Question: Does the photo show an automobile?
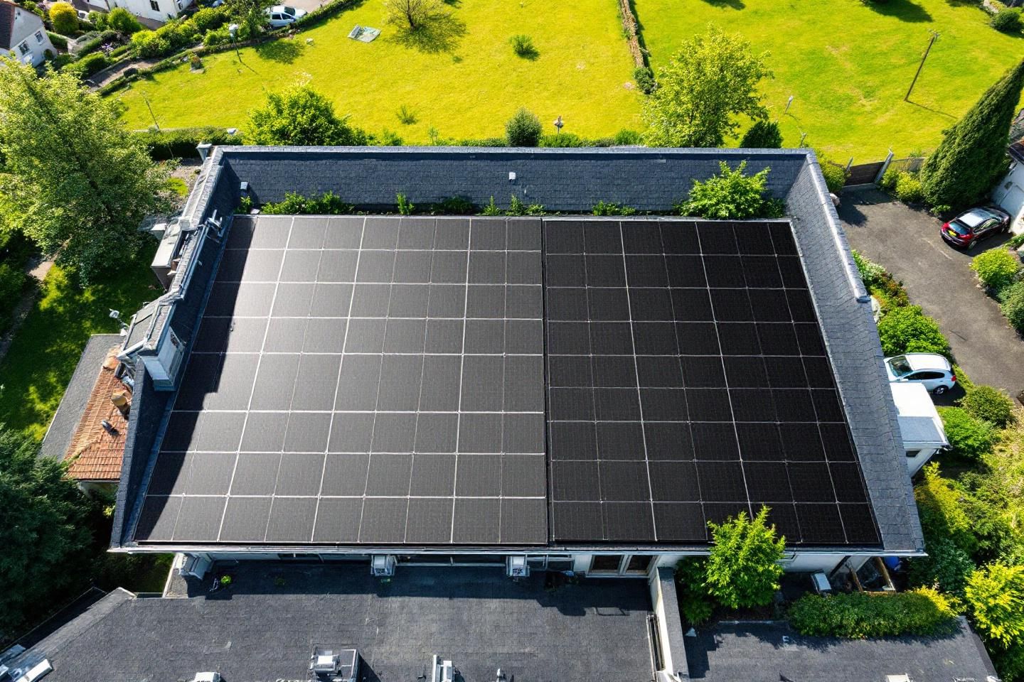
Yes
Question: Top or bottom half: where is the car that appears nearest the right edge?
top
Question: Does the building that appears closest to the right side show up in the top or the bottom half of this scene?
top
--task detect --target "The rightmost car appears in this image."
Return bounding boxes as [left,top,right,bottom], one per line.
[950,207,1014,242]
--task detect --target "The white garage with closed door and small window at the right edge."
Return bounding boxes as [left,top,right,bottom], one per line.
[991,149,1024,231]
